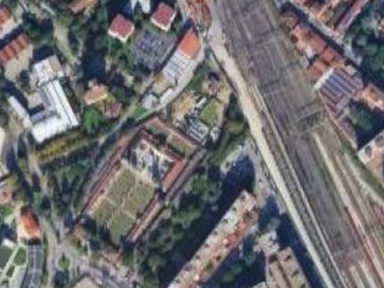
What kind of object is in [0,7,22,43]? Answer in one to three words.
house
